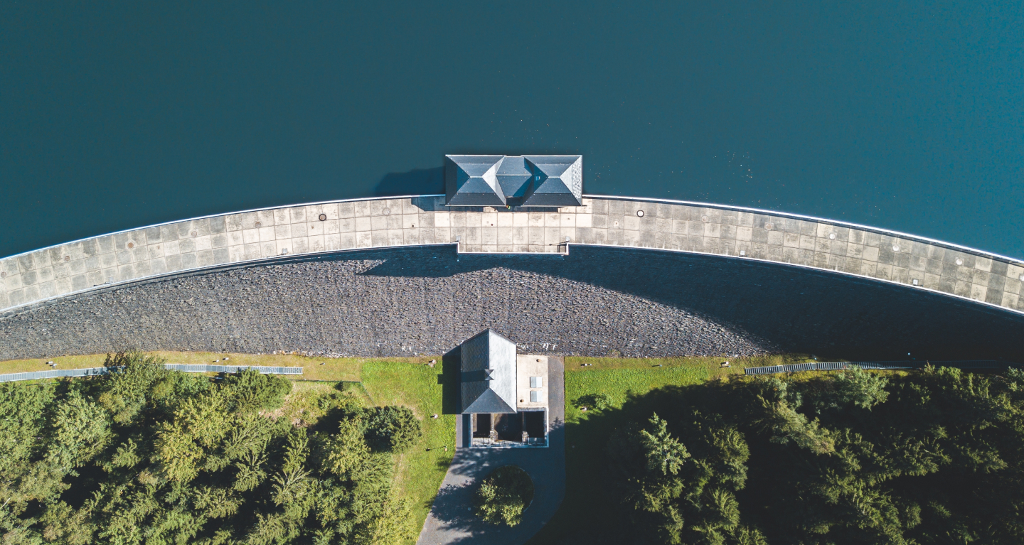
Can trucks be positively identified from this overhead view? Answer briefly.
No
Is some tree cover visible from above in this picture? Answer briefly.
Yes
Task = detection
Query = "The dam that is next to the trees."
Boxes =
[0,193,1024,369]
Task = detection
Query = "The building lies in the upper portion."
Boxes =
[445,154,583,207]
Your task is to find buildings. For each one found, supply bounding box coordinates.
[445,154,583,207]
[460,327,548,414]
